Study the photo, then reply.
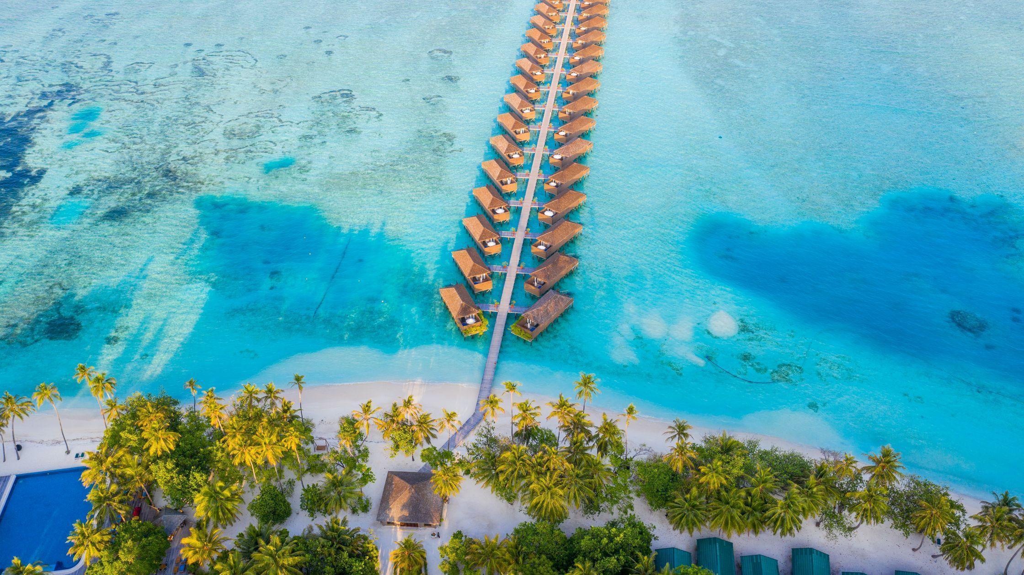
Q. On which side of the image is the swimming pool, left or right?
left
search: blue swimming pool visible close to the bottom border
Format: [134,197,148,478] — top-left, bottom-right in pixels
[0,465,108,575]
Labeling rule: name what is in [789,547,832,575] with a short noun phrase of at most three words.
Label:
shed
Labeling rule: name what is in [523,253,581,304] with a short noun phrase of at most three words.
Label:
house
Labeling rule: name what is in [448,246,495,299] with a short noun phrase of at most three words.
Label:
house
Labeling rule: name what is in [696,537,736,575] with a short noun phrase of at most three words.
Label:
shed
